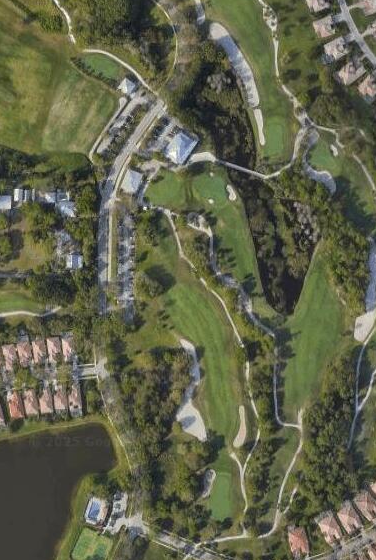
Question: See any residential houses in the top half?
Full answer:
Yes, a residential house is visible in the top half.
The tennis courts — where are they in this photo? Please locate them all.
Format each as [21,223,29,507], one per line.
[73,529,111,560]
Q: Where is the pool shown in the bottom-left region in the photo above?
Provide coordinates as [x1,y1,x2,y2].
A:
[86,496,108,526]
